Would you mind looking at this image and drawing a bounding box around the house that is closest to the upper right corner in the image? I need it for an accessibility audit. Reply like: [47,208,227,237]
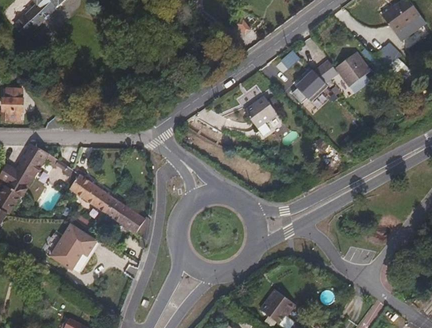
[382,0,428,48]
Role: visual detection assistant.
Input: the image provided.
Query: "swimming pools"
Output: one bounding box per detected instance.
[320,288,336,304]
[40,188,60,210]
[282,131,300,144]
